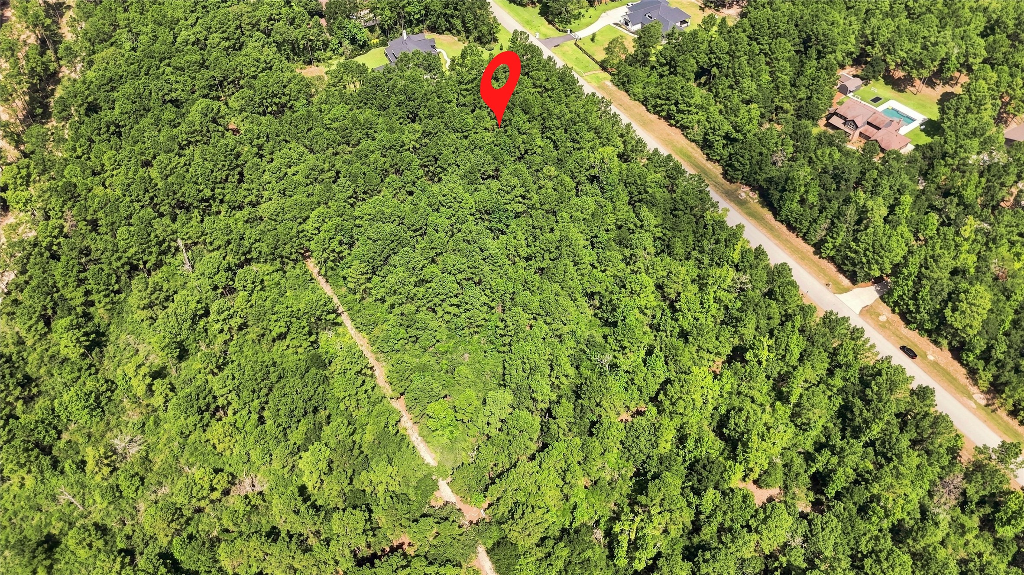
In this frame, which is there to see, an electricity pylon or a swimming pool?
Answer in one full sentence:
I can see a swimming pool in this picture.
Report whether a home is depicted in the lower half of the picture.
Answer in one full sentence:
No, in the lower half of the picture there is no home.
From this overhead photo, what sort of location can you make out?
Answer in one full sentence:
The picture captures a forest.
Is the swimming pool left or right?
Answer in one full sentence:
The swimming pool is on the right side of the image.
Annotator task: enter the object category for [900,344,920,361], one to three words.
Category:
car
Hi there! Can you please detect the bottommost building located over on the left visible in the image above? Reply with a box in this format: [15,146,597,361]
[372,30,444,76]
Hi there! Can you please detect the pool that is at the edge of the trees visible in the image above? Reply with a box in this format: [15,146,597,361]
[848,94,928,131]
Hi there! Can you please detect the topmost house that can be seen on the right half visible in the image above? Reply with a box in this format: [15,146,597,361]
[621,0,692,37]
